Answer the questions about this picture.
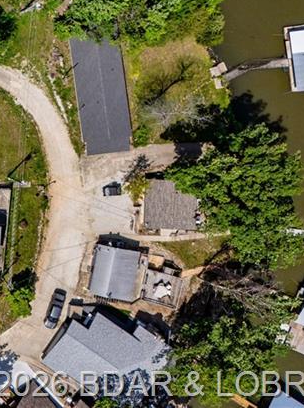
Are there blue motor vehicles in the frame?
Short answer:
No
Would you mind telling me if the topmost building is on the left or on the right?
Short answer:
left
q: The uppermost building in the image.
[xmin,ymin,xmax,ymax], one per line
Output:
[68,39,130,154]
